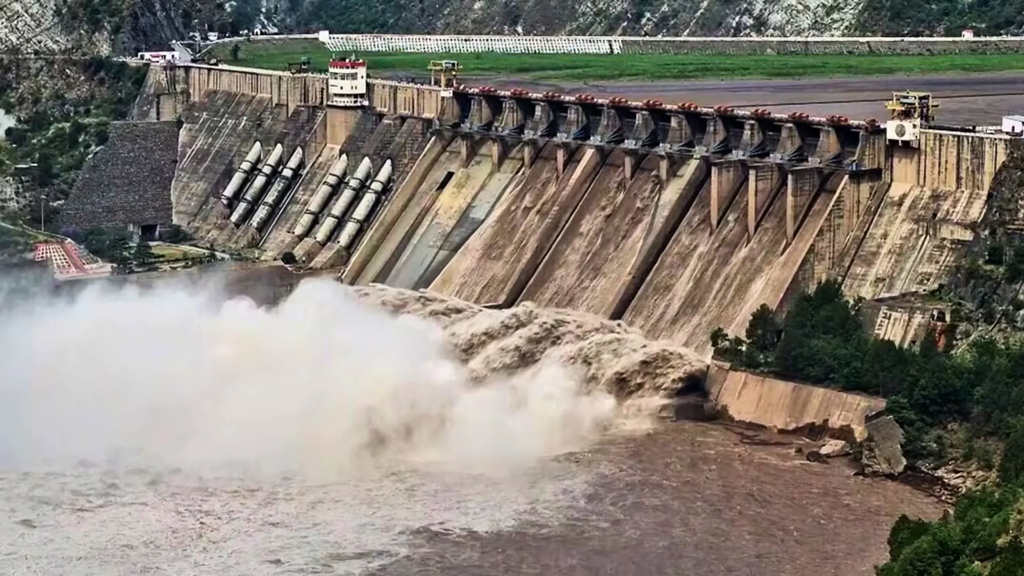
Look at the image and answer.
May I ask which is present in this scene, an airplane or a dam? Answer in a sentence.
There is a dam in the scene.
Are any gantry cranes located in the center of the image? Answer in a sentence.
No, the scene shows no gantry crane in the center of the image.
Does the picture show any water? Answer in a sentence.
Yes, there is water in the image.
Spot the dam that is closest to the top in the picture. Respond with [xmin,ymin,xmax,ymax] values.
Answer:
[318,33,1024,59]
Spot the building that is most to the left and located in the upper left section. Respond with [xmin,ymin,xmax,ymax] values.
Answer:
[137,50,183,65]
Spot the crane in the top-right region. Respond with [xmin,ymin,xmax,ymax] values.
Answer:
[888,88,934,130]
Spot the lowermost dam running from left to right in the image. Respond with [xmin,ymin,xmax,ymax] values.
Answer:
[141,61,1024,321]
